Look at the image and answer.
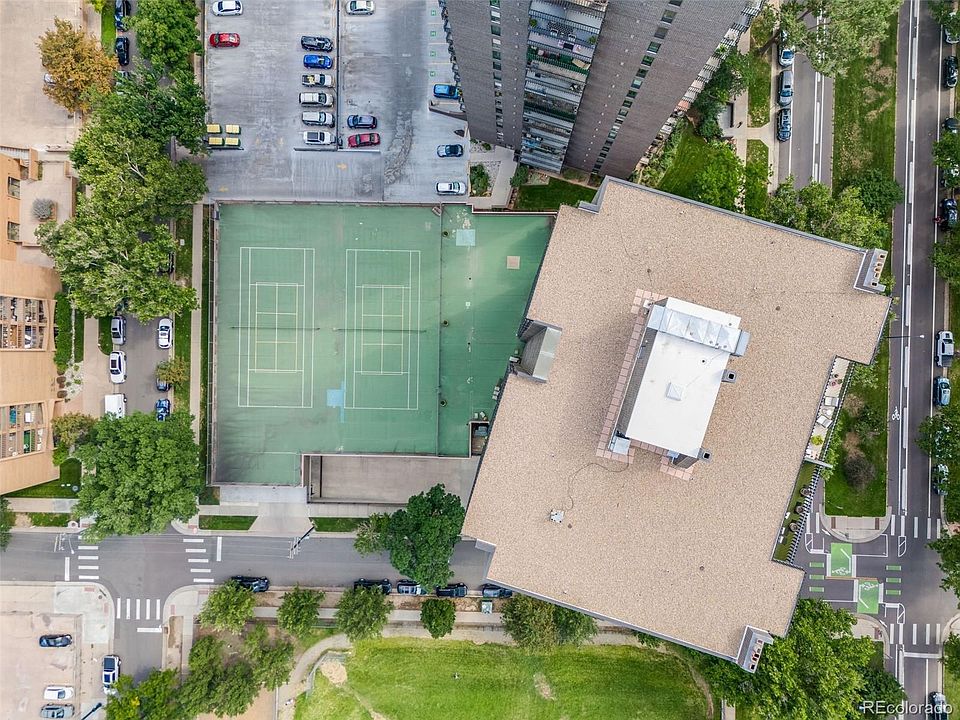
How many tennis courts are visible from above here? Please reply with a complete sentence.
I count 2 tennis courts.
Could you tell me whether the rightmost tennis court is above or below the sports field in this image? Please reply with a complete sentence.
The rightmost tennis court is found above the sports field in the photo.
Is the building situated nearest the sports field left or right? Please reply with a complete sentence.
The building situated nearest the sports field sits on the right side.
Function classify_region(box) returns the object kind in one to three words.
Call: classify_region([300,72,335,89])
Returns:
vehicle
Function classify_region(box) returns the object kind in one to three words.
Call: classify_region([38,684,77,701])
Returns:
vehicle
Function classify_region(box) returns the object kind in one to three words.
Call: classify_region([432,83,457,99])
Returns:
car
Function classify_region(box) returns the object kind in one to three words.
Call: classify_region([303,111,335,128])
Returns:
car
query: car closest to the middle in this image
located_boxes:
[435,179,467,195]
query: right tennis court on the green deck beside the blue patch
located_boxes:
[335,247,426,412]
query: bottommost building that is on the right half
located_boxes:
[458,174,892,671]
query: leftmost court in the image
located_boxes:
[232,245,321,411]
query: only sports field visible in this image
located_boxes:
[291,637,700,720]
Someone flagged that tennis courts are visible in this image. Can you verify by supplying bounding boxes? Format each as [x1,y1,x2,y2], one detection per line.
[335,247,426,412]
[232,245,321,411]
